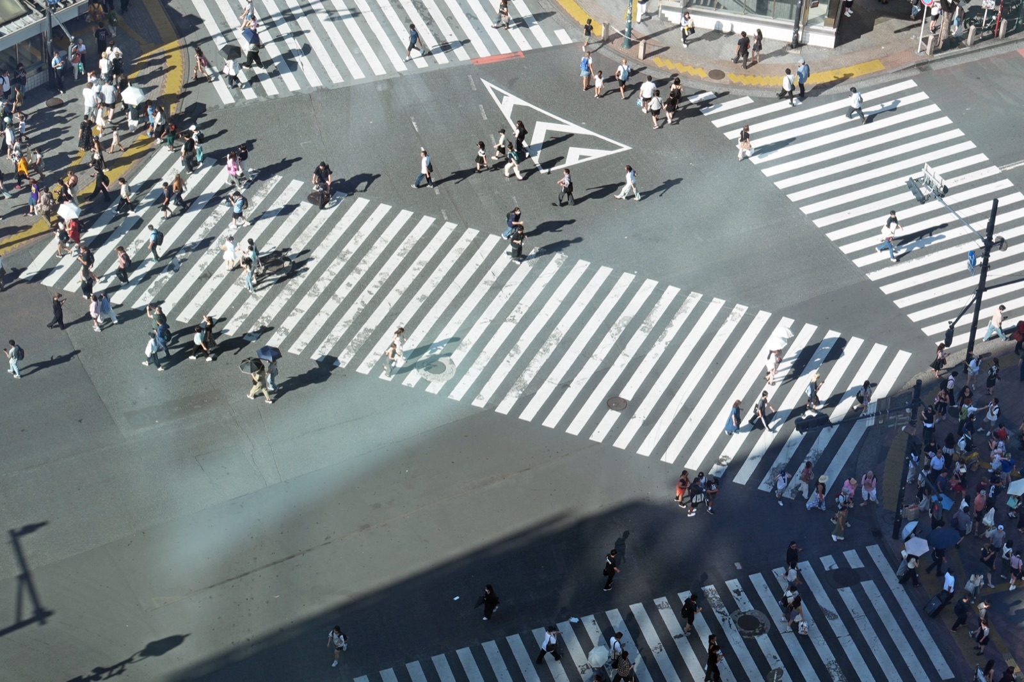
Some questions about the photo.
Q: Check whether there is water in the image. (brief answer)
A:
No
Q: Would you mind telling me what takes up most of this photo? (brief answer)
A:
paved ground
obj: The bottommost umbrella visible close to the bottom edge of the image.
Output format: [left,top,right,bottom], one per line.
[587,652,613,671]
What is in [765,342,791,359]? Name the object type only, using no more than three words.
umbrella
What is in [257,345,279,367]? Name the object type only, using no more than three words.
umbrella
